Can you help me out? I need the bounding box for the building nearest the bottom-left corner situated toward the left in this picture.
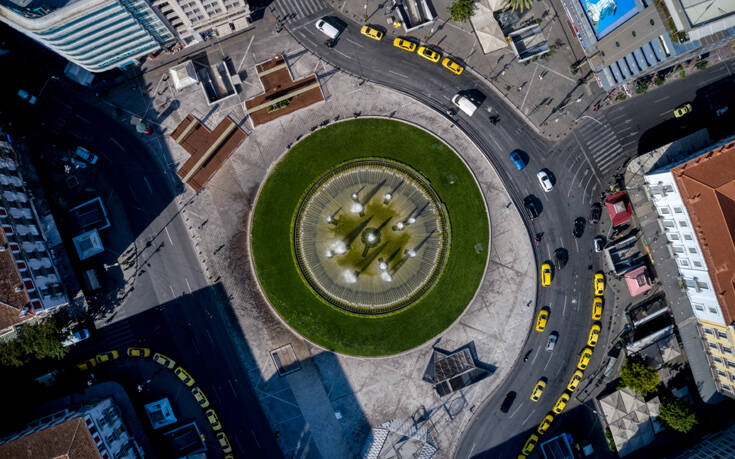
[0,394,147,459]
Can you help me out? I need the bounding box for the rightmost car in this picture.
[712,104,734,119]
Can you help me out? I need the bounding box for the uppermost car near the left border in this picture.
[15,88,37,104]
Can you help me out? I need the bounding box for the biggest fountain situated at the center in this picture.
[290,157,450,317]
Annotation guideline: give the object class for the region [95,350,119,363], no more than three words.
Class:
vehicle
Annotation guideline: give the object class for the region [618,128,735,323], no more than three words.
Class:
building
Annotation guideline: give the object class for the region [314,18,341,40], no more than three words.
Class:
vehicle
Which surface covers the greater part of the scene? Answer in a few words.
paved ground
